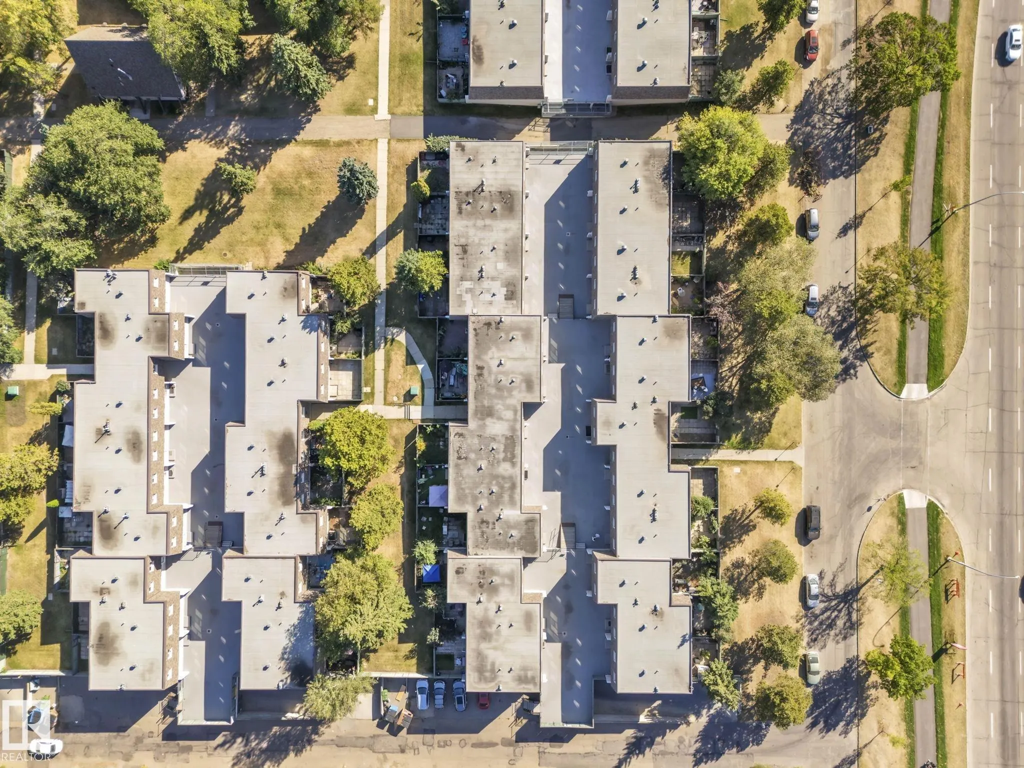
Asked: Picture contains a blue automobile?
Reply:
Yes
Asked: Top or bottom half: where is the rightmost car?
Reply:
top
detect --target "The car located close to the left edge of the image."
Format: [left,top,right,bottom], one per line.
[30,737,65,755]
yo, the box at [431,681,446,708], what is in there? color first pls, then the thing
blue car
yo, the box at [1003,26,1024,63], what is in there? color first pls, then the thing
white car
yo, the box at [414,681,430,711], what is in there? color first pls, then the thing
blue car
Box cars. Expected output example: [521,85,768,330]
[1003,26,1024,63]
[804,505,823,539]
[452,681,468,712]
[803,29,821,63]
[414,681,430,711]
[804,208,822,242]
[30,737,65,755]
[804,284,821,316]
[804,574,821,607]
[431,681,446,708]
[804,0,821,27]
[477,693,490,711]
[804,650,822,684]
